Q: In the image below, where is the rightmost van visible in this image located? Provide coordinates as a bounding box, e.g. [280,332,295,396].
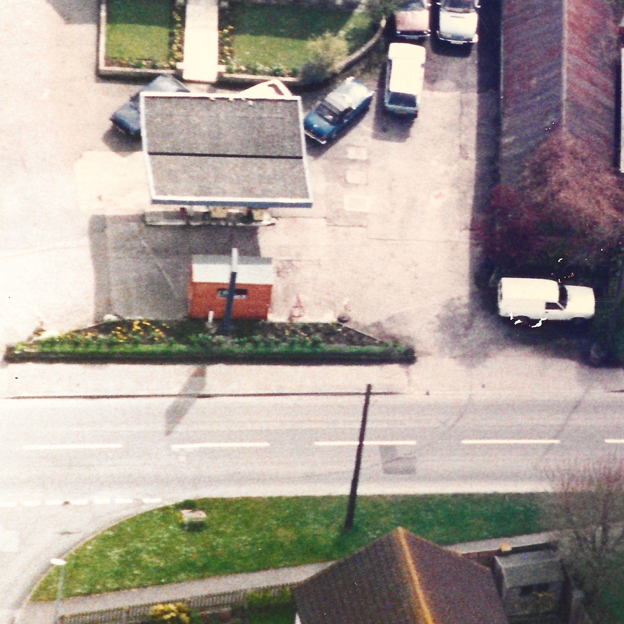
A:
[497,281,599,333]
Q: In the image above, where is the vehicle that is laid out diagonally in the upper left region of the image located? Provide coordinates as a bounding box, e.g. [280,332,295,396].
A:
[103,83,192,143]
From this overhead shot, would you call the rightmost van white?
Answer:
Yes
